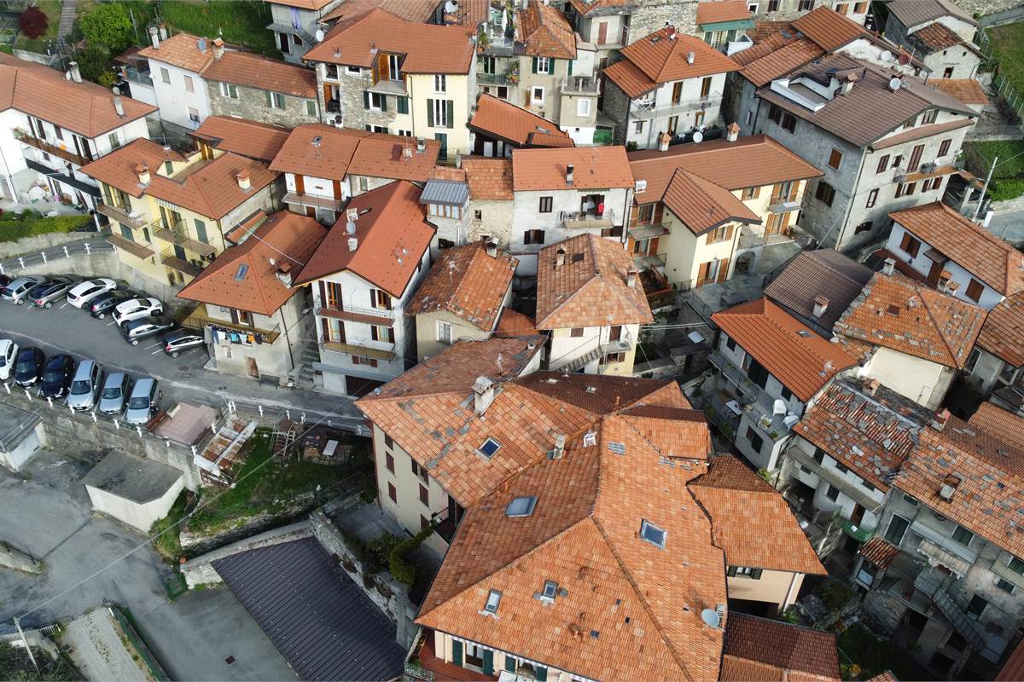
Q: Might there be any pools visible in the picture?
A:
No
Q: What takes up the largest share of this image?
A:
buildings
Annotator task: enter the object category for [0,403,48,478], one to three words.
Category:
building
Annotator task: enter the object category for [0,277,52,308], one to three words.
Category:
car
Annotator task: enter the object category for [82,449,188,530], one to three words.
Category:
building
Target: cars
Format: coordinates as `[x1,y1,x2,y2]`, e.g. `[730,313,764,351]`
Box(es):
[0,277,52,308]
[39,353,77,398]
[11,346,50,391]
[122,372,160,426]
[113,315,181,351]
[82,289,140,323]
[0,332,22,382]
[64,276,123,307]
[67,360,105,410]
[95,371,132,418]
[24,276,78,311]
[107,296,170,329]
